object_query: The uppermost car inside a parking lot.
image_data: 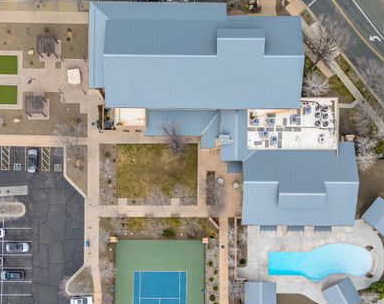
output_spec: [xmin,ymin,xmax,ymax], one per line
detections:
[26,149,38,173]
